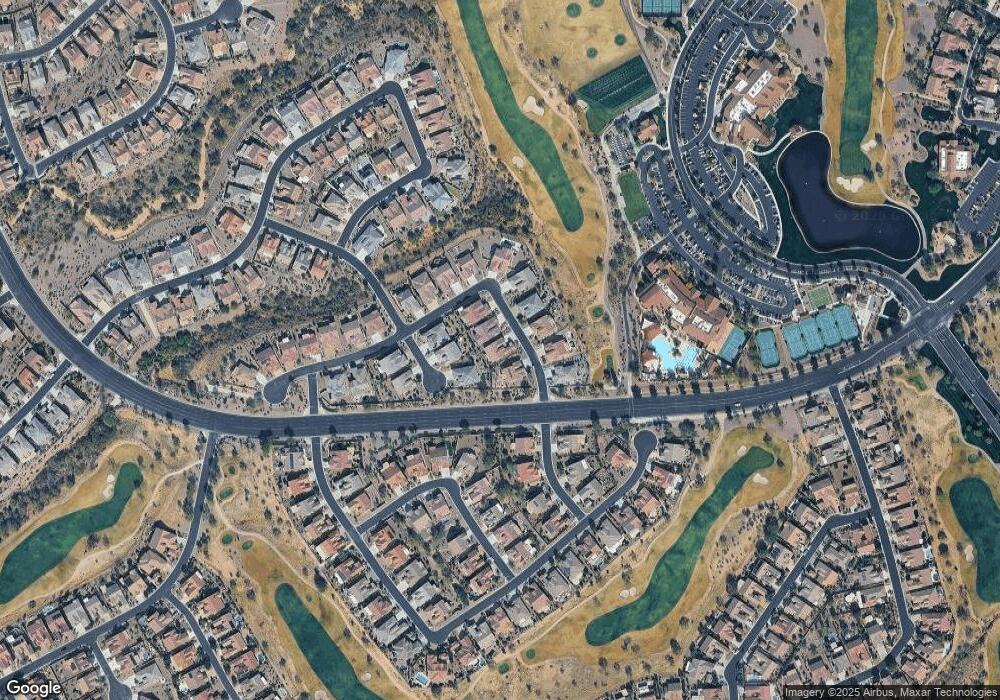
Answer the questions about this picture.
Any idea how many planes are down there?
0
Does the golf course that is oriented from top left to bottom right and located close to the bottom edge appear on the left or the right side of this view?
left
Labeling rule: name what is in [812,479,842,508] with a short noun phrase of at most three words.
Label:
house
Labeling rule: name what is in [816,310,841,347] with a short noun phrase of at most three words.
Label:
tennis court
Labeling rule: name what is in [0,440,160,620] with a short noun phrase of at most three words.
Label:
golf course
